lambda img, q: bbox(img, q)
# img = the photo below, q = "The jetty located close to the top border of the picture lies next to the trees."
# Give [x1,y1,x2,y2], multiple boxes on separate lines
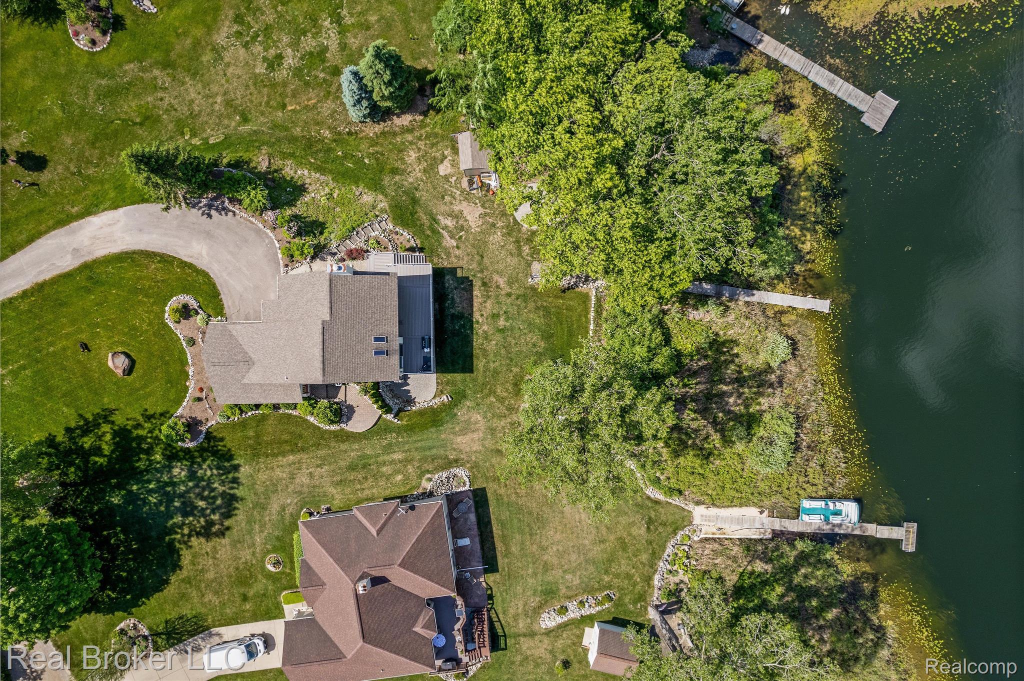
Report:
[722,10,901,134]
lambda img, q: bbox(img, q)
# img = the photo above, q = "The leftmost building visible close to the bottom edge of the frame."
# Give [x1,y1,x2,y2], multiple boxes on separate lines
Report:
[281,494,457,681]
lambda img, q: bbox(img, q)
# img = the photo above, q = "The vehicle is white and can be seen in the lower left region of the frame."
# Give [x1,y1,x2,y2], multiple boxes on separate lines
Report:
[202,634,267,678]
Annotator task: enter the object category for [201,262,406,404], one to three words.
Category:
house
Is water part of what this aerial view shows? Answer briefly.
Yes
